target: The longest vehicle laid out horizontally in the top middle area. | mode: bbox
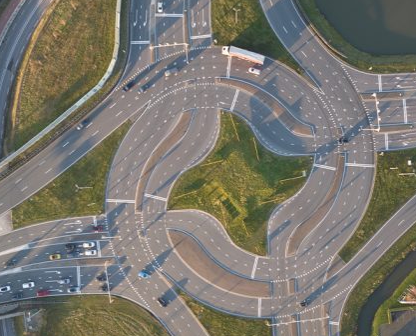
[223,44,267,64]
